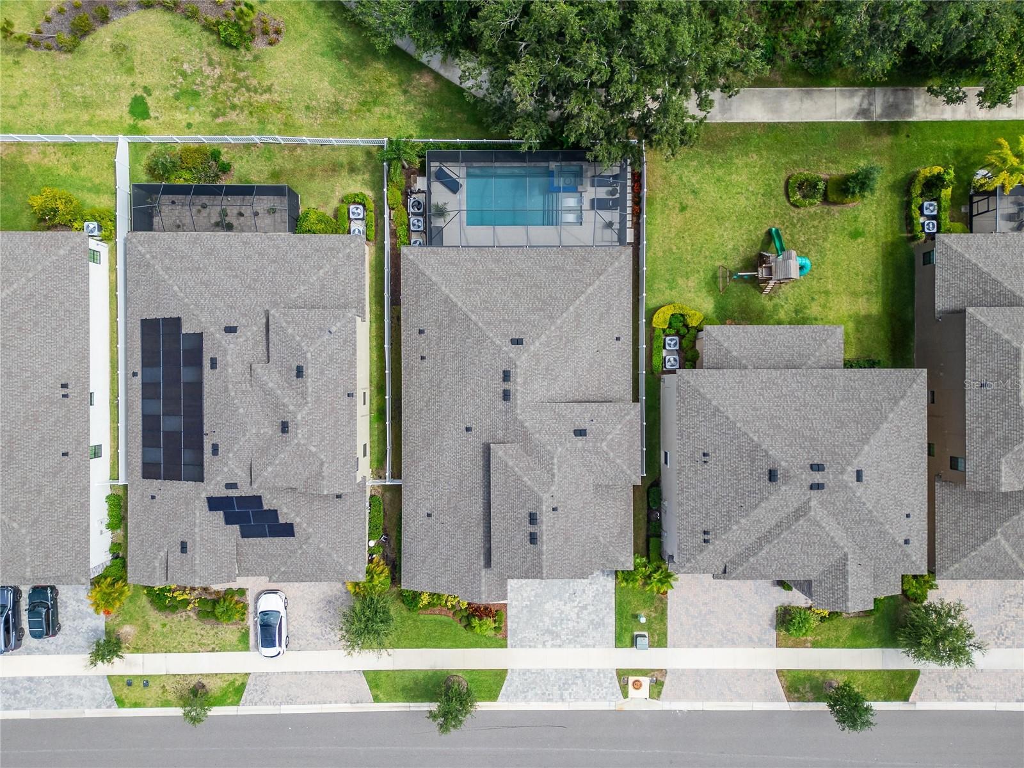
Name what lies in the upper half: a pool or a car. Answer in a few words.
pool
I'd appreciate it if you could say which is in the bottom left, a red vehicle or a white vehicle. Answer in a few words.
white vehicle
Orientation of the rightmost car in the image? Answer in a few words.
up and down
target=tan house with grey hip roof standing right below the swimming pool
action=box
[400,245,643,601]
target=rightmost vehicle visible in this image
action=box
[254,588,289,658]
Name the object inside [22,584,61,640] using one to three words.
car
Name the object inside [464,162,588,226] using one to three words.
swimming pool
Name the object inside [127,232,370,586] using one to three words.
house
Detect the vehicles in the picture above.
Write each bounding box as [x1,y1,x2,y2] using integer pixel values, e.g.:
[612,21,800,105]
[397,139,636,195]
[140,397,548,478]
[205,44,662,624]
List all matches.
[0,584,27,653]
[22,584,61,640]
[254,588,289,658]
